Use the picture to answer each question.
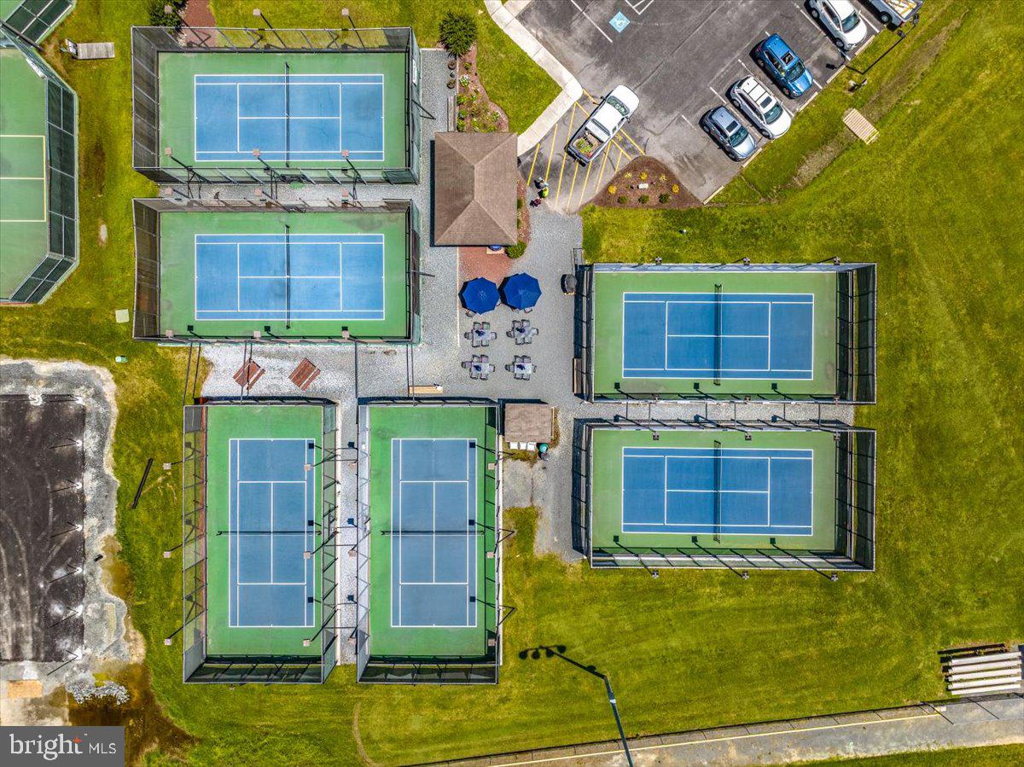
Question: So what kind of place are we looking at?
sports ground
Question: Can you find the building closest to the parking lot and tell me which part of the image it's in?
top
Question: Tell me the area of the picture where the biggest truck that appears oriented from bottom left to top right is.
top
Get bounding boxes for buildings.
[505,404,552,442]
[434,132,518,248]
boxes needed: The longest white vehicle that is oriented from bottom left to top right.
[568,85,639,164]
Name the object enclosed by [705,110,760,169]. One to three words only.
car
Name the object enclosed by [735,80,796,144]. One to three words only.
car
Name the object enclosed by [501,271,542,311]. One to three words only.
umbrella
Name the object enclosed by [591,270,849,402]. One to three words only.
tennis court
